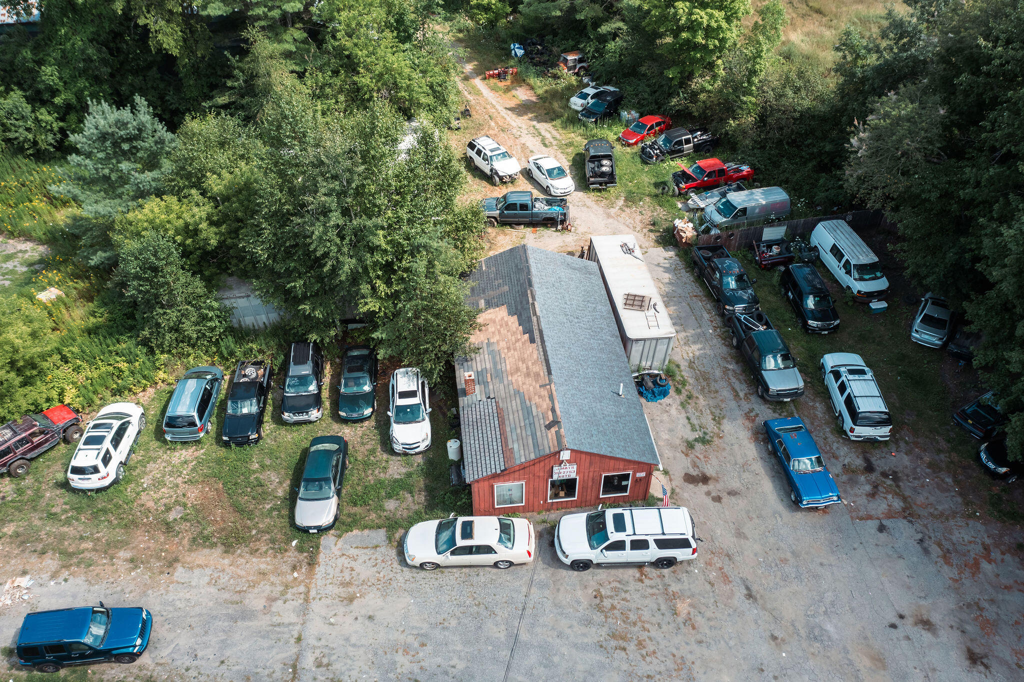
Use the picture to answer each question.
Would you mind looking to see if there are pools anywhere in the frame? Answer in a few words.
No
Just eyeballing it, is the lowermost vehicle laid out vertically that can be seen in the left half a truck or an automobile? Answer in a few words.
automobile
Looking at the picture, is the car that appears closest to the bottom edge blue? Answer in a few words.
Yes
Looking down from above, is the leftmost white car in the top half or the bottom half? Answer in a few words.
bottom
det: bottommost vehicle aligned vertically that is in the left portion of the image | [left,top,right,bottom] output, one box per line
[295,435,351,533]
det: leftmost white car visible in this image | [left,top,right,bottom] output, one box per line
[69,398,167,492]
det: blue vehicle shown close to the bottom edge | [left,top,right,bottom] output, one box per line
[5,603,154,677]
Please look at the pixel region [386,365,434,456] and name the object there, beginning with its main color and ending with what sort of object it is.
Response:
white car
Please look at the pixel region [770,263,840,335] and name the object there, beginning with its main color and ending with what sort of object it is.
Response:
black car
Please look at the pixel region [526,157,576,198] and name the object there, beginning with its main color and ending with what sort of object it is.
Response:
white car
